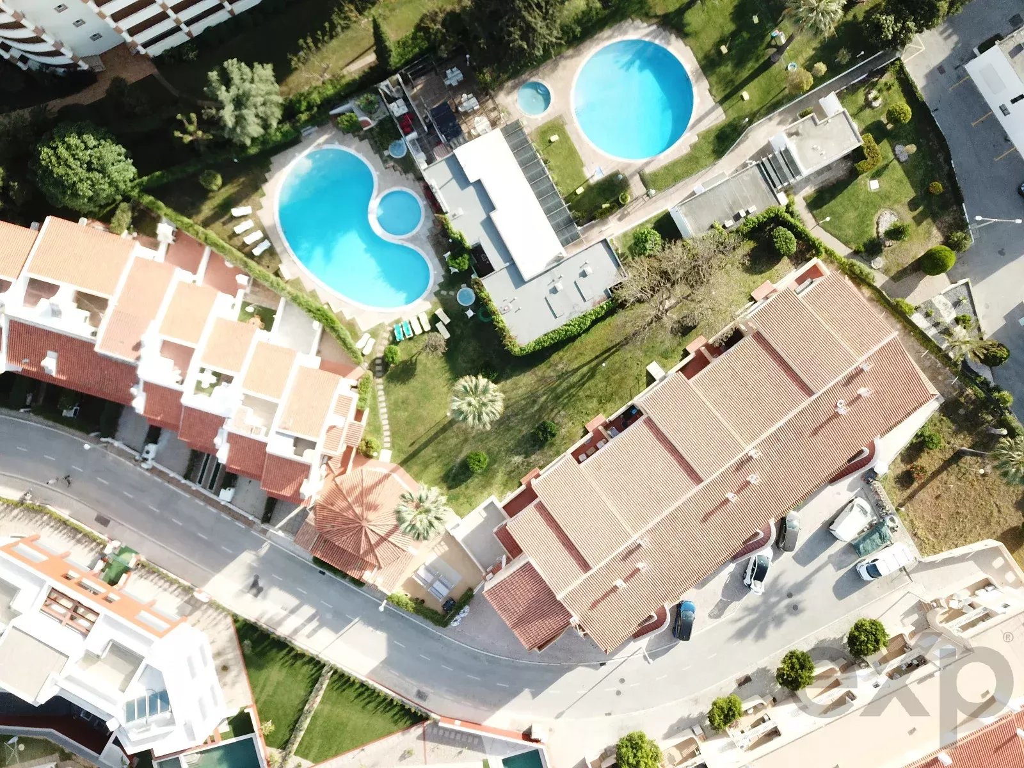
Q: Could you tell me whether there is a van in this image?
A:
Yes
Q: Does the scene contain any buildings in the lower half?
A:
Yes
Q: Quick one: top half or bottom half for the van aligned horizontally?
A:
bottom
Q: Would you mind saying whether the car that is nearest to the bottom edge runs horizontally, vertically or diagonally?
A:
vertically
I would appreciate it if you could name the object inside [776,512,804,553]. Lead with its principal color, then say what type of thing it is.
gray car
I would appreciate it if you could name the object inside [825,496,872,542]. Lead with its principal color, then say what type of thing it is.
white van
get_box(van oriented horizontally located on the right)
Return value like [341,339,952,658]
[855,546,913,579]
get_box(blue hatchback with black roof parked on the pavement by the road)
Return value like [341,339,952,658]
[673,599,697,642]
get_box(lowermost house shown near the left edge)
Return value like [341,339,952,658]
[0,525,226,757]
